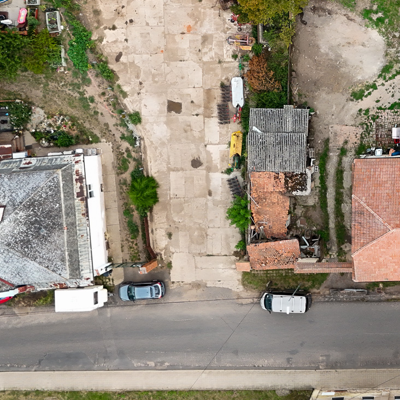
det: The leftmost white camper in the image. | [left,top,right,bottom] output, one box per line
[46,287,114,317]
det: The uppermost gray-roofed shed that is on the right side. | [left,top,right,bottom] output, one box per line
[247,105,310,173]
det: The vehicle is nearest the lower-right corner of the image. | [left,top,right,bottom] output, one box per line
[260,292,310,319]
